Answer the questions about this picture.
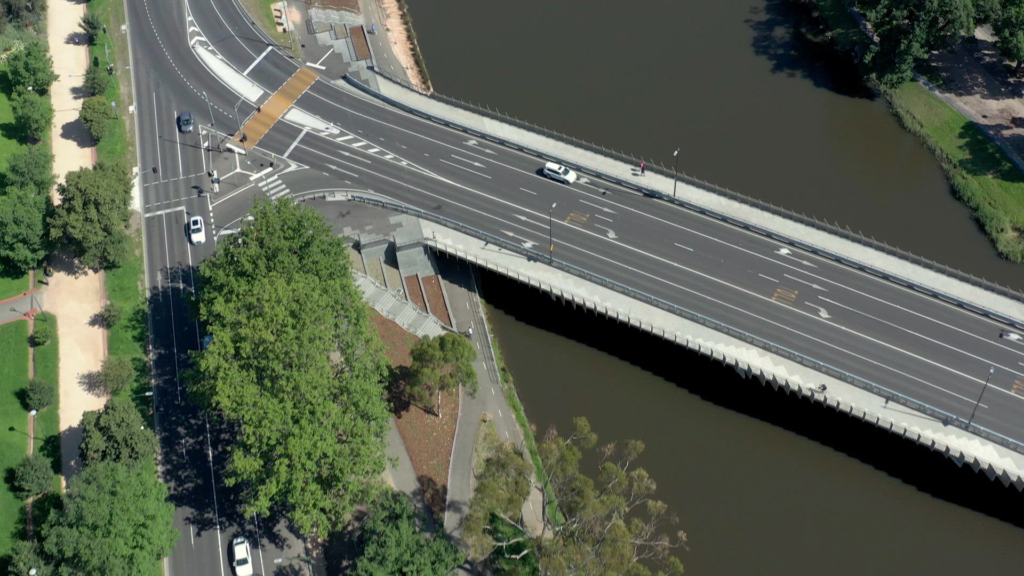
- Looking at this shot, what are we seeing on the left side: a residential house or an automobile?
automobile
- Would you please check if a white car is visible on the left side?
Yes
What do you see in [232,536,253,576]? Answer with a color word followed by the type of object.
white car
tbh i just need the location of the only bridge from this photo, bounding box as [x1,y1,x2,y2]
[375,69,1024,486]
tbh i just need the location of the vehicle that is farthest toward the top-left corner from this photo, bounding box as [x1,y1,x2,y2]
[178,109,193,131]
